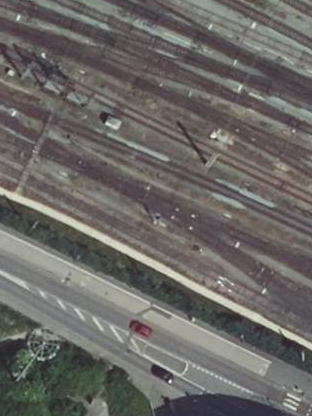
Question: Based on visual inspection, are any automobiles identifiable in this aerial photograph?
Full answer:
Yes, an automobile is visible in the scene.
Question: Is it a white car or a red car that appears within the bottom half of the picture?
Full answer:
The feature located within the bottom half of the picture is a red car.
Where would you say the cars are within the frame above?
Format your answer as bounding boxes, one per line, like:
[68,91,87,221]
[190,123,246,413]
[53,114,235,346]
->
[128,320,151,336]
[150,364,174,382]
